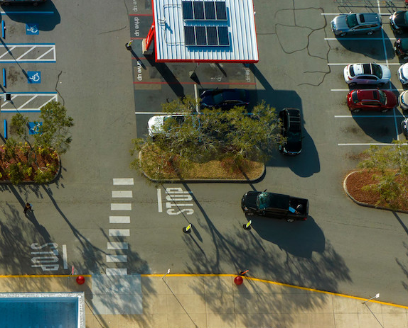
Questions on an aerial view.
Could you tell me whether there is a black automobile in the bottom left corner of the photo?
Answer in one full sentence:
No, there's no black automobile to be seen in the bottom left corner of the photo.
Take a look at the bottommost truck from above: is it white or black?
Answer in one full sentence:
From above, the bottommost truck appears black.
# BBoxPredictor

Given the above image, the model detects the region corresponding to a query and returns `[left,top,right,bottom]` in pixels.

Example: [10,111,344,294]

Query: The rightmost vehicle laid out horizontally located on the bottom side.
[239,189,312,223]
